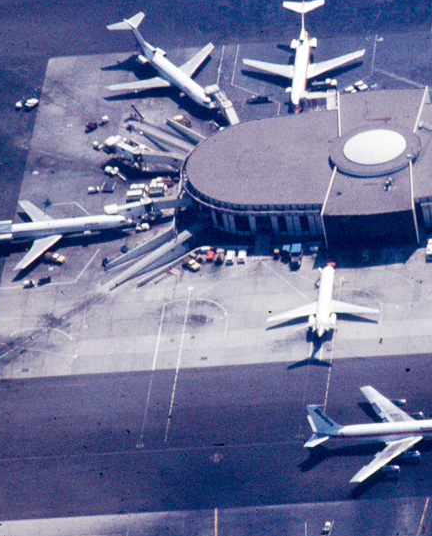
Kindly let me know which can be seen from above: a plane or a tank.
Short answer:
plane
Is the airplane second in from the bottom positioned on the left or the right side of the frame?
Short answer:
right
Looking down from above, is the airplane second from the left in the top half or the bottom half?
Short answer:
top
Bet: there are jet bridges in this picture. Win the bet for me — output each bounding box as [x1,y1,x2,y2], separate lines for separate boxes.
[100,193,186,226]
[102,135,184,177]
[296,91,337,112]
[205,84,240,126]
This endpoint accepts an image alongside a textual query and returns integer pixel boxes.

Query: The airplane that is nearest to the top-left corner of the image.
[105,14,214,108]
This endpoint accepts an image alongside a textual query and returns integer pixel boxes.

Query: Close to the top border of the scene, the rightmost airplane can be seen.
[242,0,366,111]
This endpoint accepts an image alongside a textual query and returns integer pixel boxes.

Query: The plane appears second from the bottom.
[268,263,381,338]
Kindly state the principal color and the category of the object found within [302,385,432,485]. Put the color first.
white airplane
